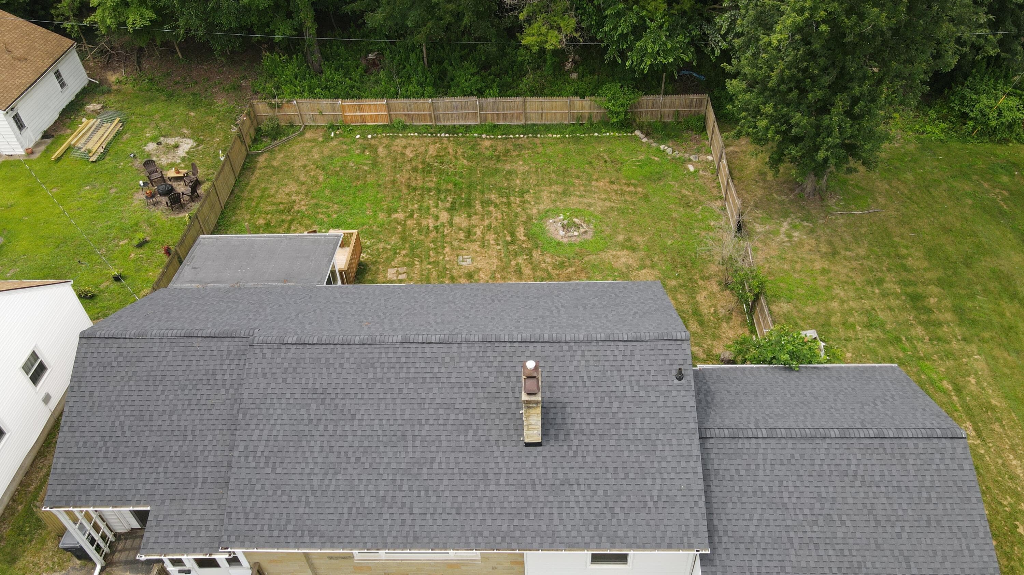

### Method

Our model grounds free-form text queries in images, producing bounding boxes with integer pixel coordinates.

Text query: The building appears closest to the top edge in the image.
[0,7,105,154]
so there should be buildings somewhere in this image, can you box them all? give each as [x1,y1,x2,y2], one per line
[41,229,1000,575]
[0,7,105,154]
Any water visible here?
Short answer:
No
